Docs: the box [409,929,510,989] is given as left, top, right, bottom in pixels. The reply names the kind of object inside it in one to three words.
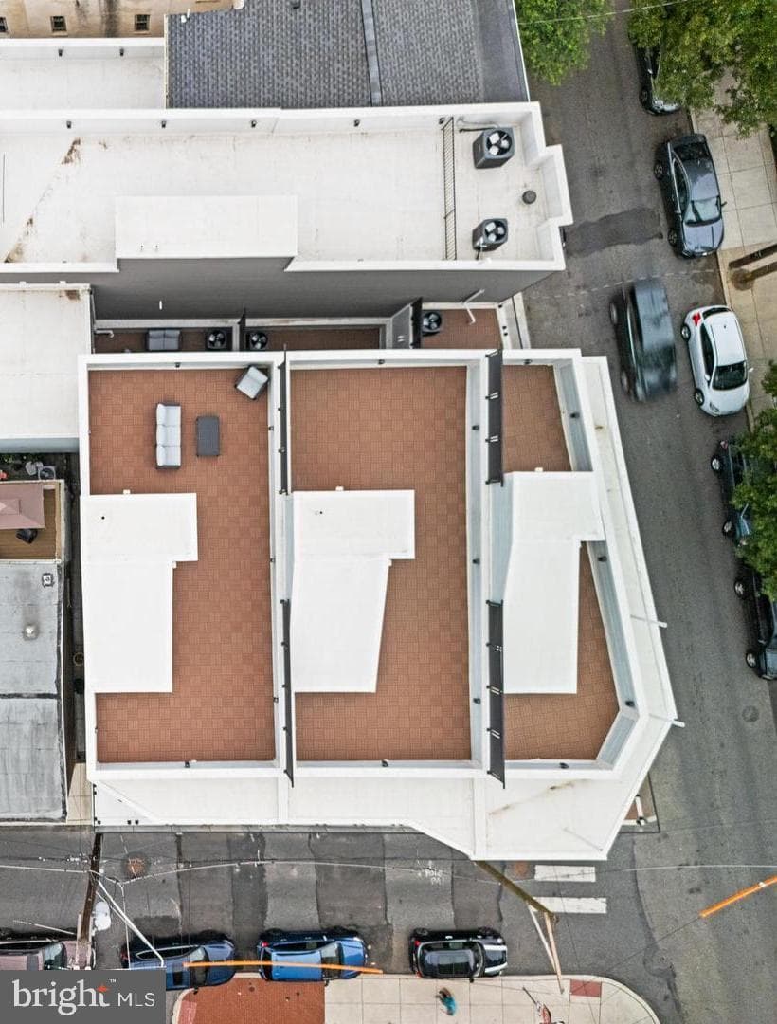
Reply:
car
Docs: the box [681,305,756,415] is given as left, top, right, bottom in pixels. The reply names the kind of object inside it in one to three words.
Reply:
car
